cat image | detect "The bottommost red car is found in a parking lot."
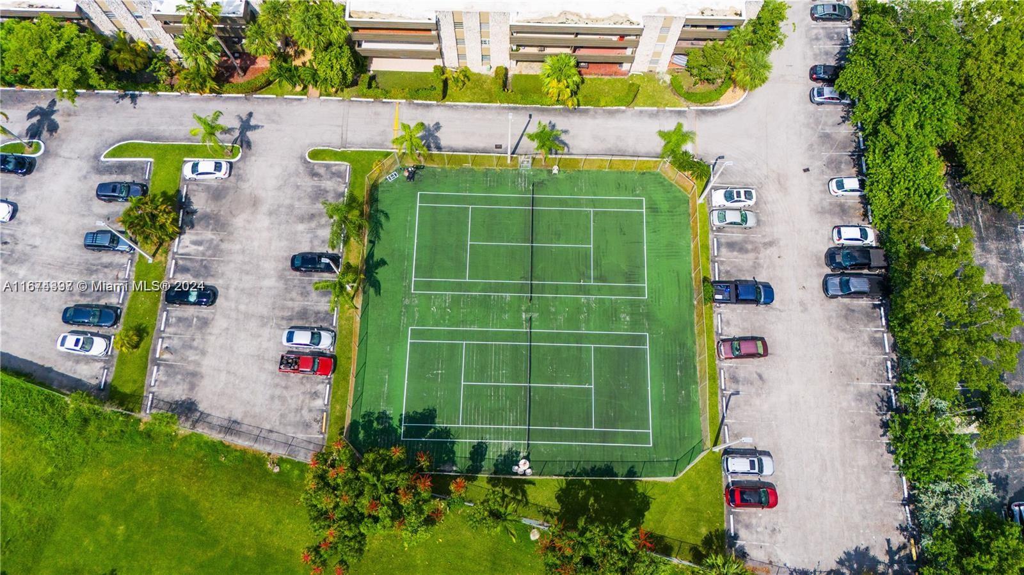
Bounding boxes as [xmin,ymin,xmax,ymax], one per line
[724,485,779,511]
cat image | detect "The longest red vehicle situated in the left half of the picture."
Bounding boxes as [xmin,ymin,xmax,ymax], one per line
[277,353,335,377]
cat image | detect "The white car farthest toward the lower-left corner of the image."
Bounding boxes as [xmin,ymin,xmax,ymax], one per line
[55,333,113,357]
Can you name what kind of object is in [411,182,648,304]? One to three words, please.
tennis court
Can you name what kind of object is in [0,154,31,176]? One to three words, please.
car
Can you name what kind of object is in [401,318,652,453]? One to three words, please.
tennis court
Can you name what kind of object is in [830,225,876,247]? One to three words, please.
car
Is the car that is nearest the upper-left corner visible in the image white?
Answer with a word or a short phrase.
No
